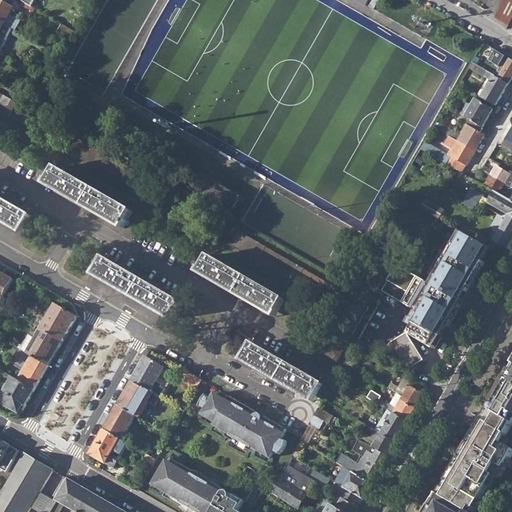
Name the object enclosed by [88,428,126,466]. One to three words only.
house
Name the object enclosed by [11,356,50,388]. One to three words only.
house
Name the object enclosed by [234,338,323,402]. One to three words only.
building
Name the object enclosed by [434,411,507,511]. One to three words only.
building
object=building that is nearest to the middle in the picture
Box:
[190,250,284,318]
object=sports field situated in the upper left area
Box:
[66,0,157,96]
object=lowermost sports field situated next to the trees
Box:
[242,186,346,266]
